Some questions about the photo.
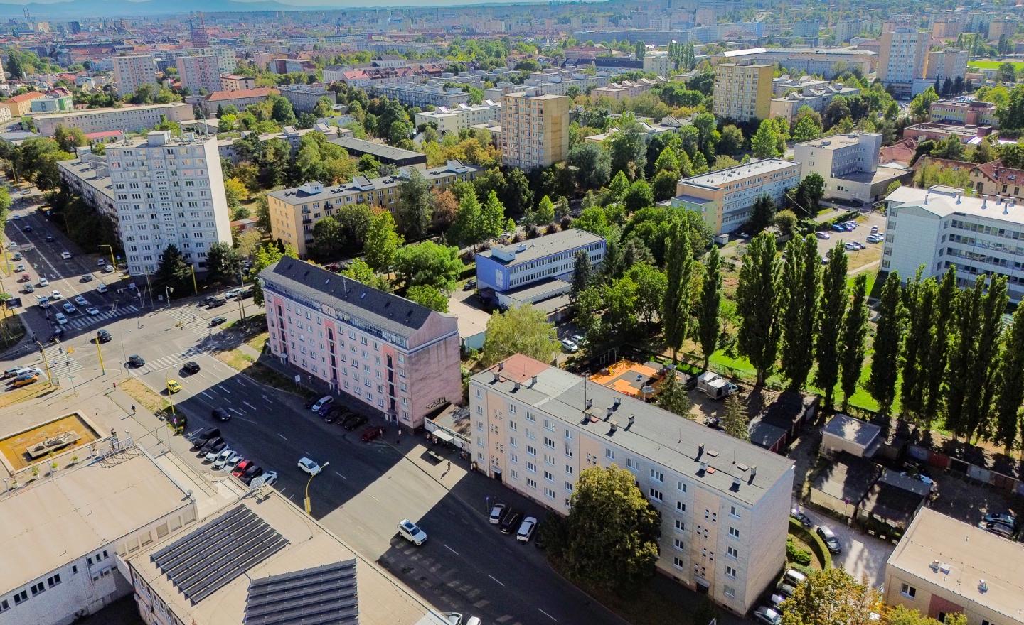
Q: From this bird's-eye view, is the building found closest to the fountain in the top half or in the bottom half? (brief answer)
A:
bottom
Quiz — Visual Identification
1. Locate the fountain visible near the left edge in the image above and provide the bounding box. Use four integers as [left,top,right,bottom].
[0,407,108,474]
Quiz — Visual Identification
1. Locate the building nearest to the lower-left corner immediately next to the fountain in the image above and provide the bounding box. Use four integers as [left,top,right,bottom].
[0,444,202,625]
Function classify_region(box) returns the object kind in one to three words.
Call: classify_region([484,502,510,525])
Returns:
car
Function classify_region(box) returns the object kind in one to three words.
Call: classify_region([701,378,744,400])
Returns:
vehicle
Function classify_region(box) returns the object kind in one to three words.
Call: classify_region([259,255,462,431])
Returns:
building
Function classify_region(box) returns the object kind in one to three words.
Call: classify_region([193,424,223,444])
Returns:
car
